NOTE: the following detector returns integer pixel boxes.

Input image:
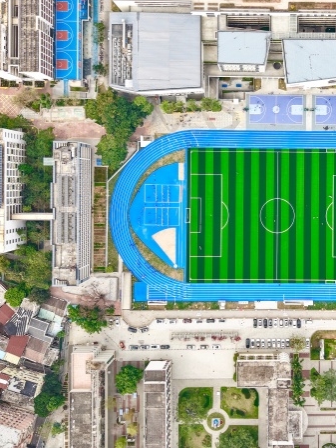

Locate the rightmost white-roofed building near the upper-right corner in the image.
[283,40,336,88]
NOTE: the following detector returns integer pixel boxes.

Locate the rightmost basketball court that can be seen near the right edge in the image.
[313,93,336,129]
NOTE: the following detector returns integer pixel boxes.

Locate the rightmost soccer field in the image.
[187,148,336,283]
